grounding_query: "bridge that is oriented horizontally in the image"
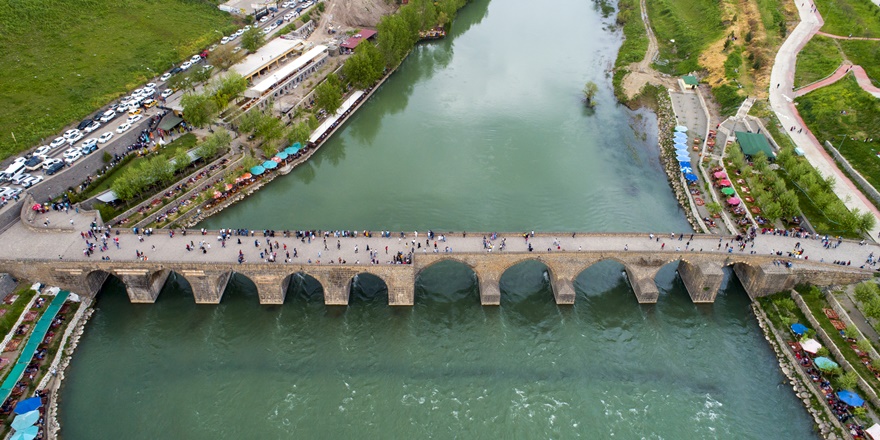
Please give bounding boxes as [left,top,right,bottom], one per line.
[0,229,880,304]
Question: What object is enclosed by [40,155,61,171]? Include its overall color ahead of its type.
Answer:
white car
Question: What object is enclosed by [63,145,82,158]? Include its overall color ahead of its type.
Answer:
white vehicle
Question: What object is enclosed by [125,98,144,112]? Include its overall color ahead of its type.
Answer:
white vehicle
